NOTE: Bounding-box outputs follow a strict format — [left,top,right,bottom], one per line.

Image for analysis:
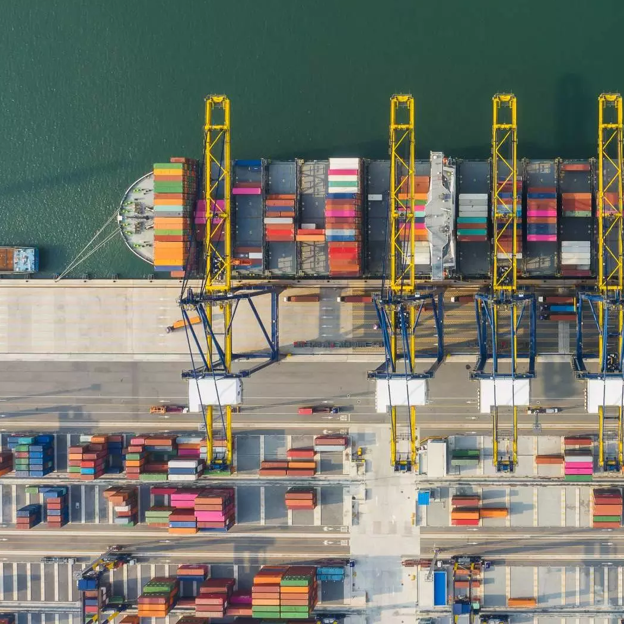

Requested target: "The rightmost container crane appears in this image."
[557,91,624,468]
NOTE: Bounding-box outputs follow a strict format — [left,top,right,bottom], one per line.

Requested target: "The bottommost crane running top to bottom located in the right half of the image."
[450,557,479,624]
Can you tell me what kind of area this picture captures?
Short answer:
port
